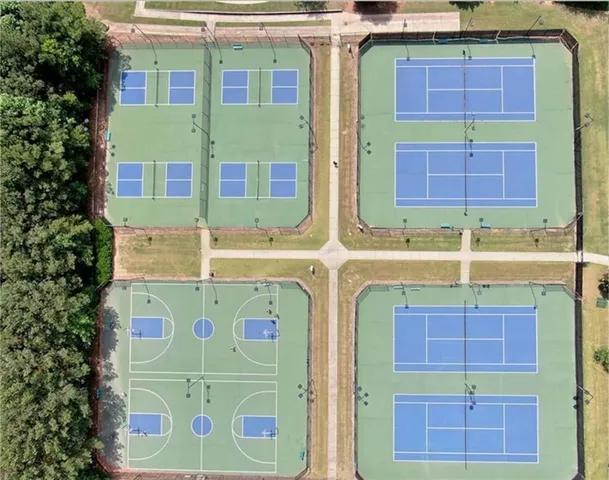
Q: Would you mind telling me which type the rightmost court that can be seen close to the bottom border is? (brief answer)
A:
tennis court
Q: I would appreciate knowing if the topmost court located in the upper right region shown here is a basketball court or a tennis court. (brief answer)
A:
tennis court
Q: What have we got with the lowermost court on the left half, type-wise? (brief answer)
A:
basketball court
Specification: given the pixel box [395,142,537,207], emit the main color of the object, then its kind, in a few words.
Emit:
blue tennis court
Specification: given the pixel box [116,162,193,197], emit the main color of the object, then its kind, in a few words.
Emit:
blue sports court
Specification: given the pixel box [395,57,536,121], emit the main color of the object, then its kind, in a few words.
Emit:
blue tennis court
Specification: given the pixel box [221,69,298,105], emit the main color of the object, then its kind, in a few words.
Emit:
blue sports court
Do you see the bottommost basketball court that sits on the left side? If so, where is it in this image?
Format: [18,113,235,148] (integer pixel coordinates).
[127,379,277,473]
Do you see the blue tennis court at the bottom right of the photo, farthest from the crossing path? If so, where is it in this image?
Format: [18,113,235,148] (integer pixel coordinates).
[394,394,539,463]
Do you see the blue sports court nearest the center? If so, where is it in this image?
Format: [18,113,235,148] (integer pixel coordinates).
[219,162,297,198]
